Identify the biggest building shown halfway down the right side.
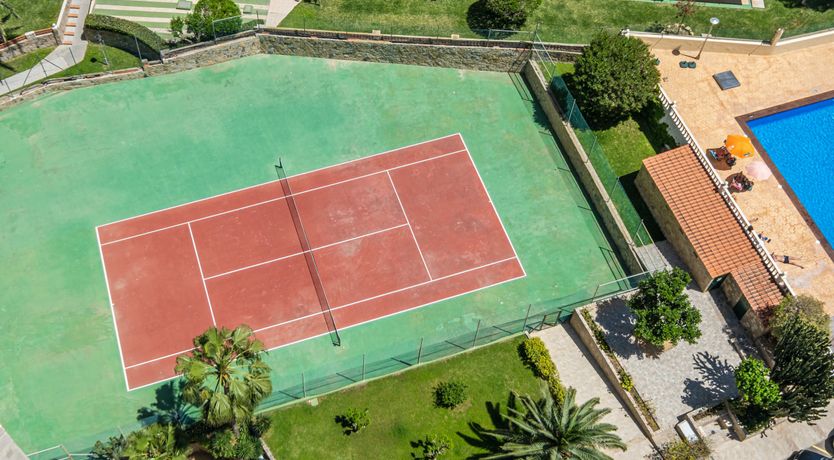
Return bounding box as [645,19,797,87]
[637,145,786,329]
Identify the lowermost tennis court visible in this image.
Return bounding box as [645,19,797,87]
[0,53,635,460]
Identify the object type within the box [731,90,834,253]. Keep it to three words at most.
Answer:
swimming pool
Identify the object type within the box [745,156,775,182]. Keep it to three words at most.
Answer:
umbrella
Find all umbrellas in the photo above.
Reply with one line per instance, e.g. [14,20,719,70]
[725,134,756,164]
[745,156,775,182]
